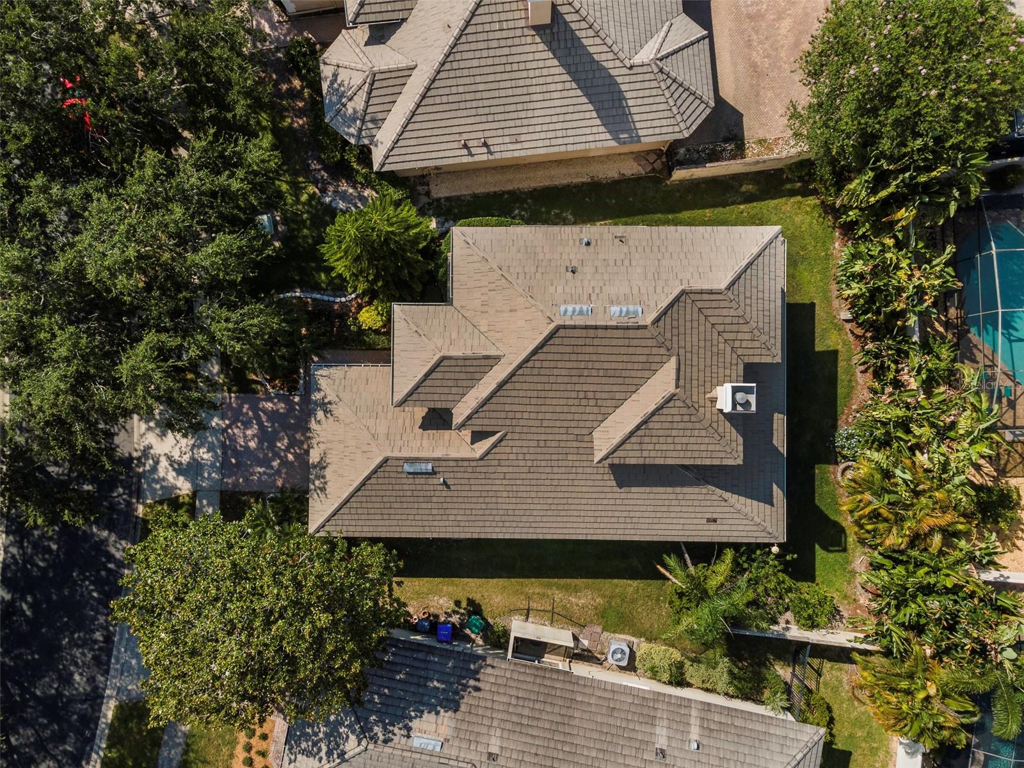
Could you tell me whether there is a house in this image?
Yes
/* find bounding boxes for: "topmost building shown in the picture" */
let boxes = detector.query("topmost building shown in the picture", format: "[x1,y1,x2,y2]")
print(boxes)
[276,0,716,176]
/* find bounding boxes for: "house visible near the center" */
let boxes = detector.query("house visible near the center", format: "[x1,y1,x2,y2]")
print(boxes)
[307,223,788,550]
